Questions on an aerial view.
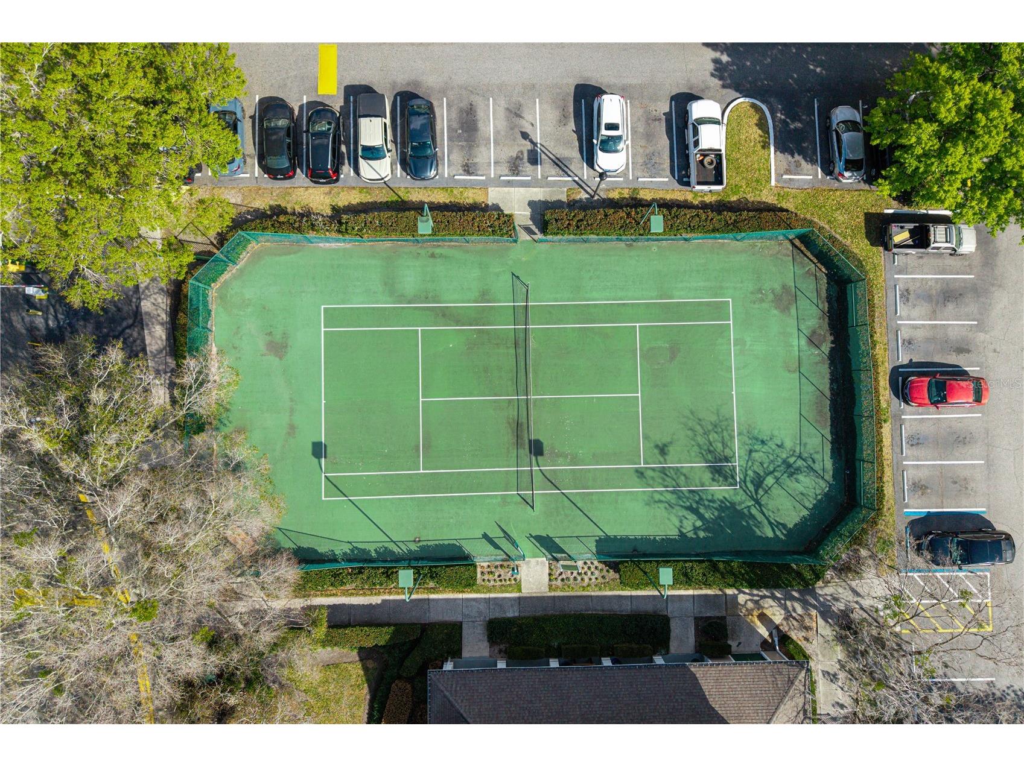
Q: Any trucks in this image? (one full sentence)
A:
Yes, there's a truck down there.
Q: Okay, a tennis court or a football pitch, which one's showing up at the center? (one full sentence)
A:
There is a tennis court at the center.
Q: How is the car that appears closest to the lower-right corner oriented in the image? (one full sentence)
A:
What the image shows is the car that appears closest to the lower-right corner lying horizontally.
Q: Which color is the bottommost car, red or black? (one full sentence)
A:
From above, the bottommost car appears black.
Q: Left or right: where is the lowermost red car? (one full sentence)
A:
It is on the right.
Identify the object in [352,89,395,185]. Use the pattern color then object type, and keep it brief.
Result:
white truck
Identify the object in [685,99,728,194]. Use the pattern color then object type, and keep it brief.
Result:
white truck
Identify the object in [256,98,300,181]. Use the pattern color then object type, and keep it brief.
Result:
black car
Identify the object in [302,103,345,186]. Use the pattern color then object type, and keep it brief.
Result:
black car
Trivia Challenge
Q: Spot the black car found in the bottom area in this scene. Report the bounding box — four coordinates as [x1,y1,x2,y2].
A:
[921,528,1017,572]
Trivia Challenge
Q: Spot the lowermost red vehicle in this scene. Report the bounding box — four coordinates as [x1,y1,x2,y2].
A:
[904,374,989,412]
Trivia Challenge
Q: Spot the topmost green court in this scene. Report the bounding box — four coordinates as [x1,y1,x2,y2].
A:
[213,241,848,561]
